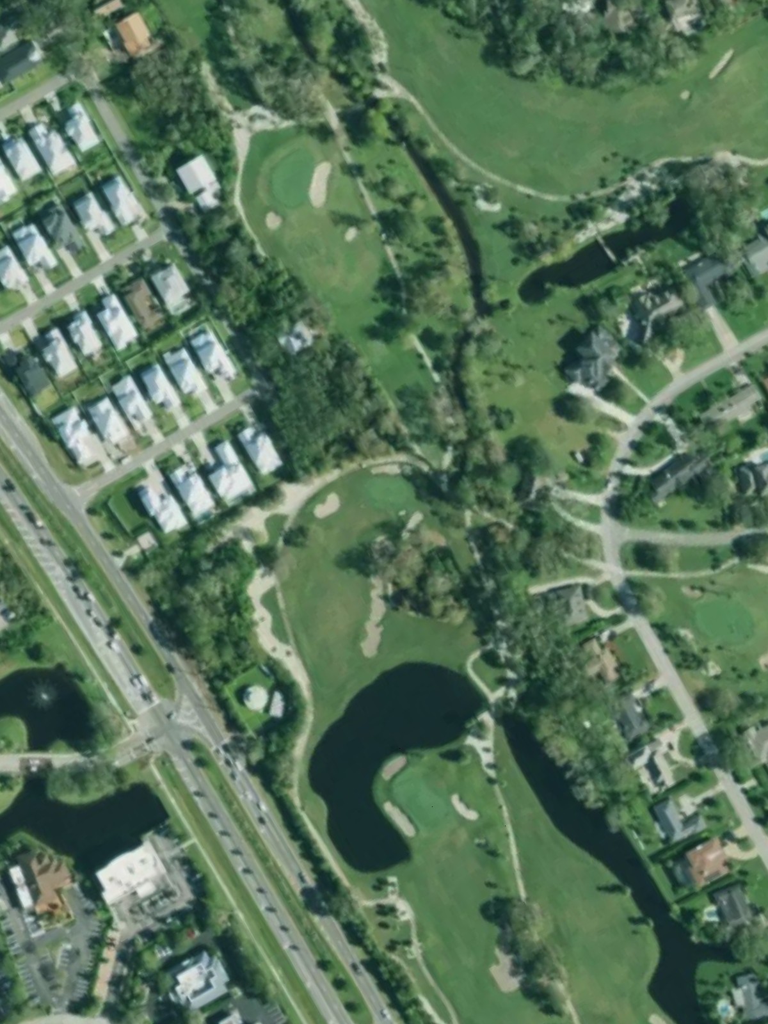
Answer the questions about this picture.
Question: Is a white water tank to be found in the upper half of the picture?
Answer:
No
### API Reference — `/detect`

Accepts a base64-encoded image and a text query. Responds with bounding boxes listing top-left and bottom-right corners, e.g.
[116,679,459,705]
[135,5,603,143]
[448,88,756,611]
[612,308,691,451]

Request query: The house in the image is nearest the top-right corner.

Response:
[668,0,699,33]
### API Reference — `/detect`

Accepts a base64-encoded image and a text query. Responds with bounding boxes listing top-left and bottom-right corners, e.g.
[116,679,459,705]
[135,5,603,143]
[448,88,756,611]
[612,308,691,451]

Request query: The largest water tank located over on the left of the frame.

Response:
[243,685,269,710]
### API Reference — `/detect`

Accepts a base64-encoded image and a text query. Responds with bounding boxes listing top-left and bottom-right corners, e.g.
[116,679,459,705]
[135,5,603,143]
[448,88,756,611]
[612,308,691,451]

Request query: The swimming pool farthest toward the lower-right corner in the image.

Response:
[718,998,734,1023]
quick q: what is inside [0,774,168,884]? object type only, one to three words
pond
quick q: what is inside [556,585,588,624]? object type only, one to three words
house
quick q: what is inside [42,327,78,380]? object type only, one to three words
house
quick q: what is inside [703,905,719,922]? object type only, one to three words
swimming pool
